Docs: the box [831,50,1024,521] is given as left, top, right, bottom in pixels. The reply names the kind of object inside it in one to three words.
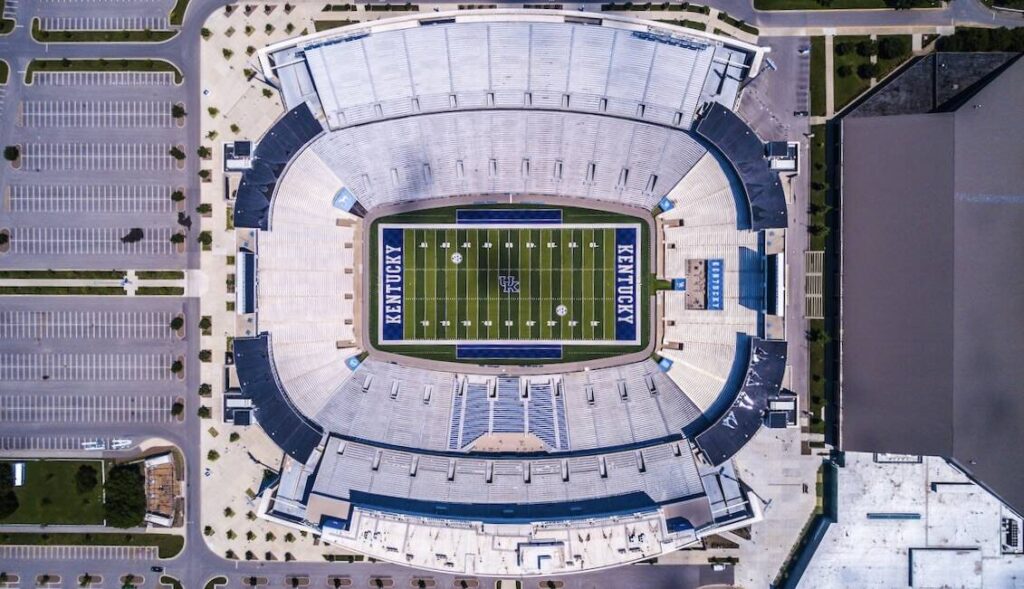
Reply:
building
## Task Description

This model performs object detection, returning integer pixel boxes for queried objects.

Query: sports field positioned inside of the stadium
[368,204,652,363]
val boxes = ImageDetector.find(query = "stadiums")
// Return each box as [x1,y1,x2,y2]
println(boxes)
[224,9,798,577]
